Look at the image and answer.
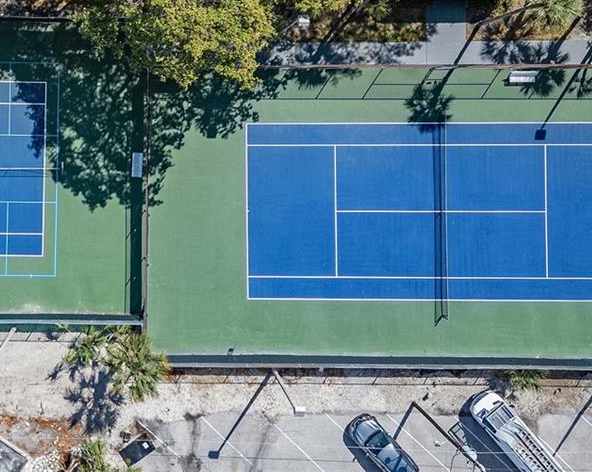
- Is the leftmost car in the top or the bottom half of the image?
bottom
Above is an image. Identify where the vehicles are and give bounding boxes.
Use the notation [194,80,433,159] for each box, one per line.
[470,389,560,472]
[347,412,413,472]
